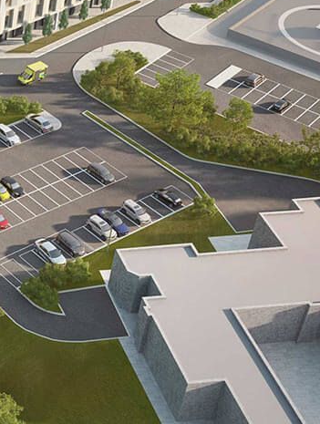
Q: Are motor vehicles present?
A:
Yes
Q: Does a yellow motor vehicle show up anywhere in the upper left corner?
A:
Yes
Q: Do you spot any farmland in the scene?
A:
No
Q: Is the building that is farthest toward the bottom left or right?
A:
right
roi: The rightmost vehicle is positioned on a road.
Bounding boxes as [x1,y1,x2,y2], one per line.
[269,101,290,115]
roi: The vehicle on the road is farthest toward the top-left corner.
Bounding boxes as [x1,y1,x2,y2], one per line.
[20,59,46,86]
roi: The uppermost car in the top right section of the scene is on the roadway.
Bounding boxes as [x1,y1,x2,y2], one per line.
[245,73,266,87]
